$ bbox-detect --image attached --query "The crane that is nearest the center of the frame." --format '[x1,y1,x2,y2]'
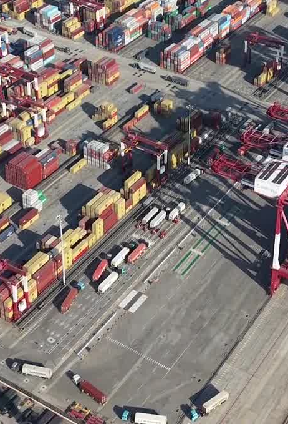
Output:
[123,130,178,186]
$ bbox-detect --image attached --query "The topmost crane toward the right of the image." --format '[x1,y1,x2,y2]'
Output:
[246,23,288,63]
